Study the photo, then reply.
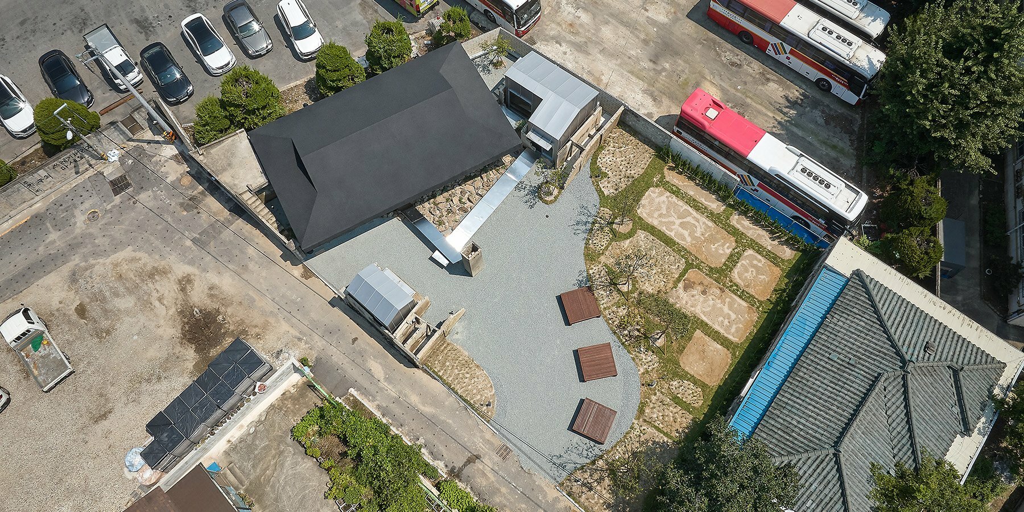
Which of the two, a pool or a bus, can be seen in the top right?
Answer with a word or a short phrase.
bus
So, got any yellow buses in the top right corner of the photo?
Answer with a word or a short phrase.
No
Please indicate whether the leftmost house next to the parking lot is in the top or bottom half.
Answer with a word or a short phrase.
top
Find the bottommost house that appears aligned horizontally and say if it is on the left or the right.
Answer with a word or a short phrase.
left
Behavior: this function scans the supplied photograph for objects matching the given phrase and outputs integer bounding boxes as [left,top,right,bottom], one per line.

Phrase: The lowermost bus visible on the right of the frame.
[672,87,870,238]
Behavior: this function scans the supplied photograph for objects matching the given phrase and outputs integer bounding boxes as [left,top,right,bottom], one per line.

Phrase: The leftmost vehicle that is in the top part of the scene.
[0,70,34,140]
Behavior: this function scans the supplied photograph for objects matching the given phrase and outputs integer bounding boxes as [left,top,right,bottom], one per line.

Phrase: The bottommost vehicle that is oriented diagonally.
[0,303,68,388]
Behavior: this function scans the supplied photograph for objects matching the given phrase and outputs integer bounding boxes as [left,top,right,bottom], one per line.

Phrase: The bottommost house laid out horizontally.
[123,461,240,512]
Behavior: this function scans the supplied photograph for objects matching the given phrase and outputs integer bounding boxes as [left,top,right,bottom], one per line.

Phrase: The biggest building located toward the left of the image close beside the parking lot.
[248,37,522,253]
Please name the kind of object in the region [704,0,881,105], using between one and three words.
bus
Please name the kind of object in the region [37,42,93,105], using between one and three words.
car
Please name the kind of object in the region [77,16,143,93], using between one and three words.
truck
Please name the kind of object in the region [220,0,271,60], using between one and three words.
car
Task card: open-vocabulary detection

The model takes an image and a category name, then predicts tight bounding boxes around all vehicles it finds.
[794,0,895,48]
[469,0,538,29]
[179,9,235,78]
[136,38,191,109]
[37,42,93,105]
[276,0,322,60]
[220,0,271,60]
[0,70,34,140]
[77,16,143,93]
[704,0,881,105]
[672,87,870,238]
[0,303,68,388]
